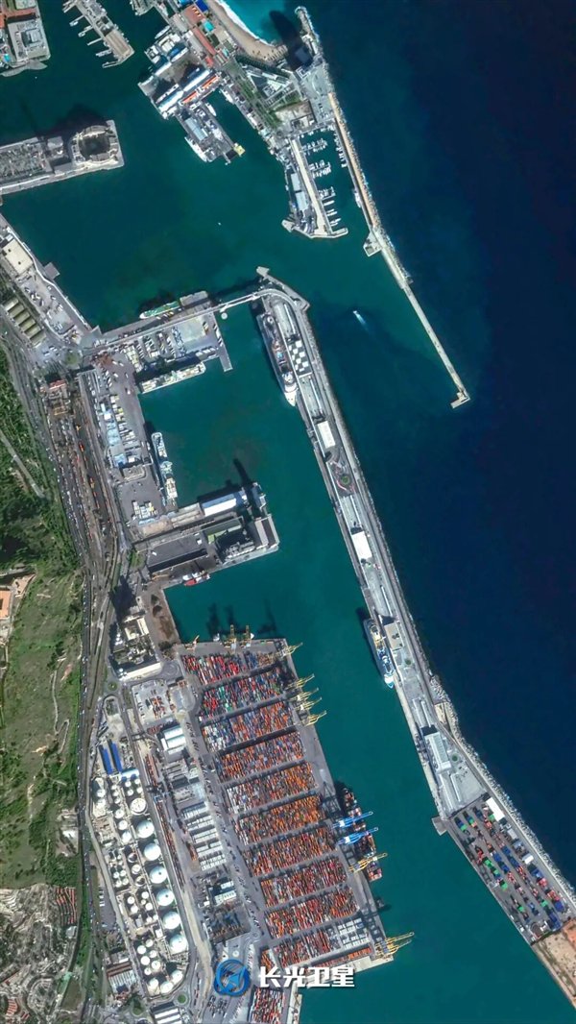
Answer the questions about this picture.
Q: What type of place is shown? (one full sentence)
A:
The picture captures a port.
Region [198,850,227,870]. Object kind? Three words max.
shed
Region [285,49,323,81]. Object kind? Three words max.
building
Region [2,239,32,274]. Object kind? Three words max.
building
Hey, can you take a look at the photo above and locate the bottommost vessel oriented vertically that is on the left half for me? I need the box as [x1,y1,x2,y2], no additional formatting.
[153,432,179,511]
